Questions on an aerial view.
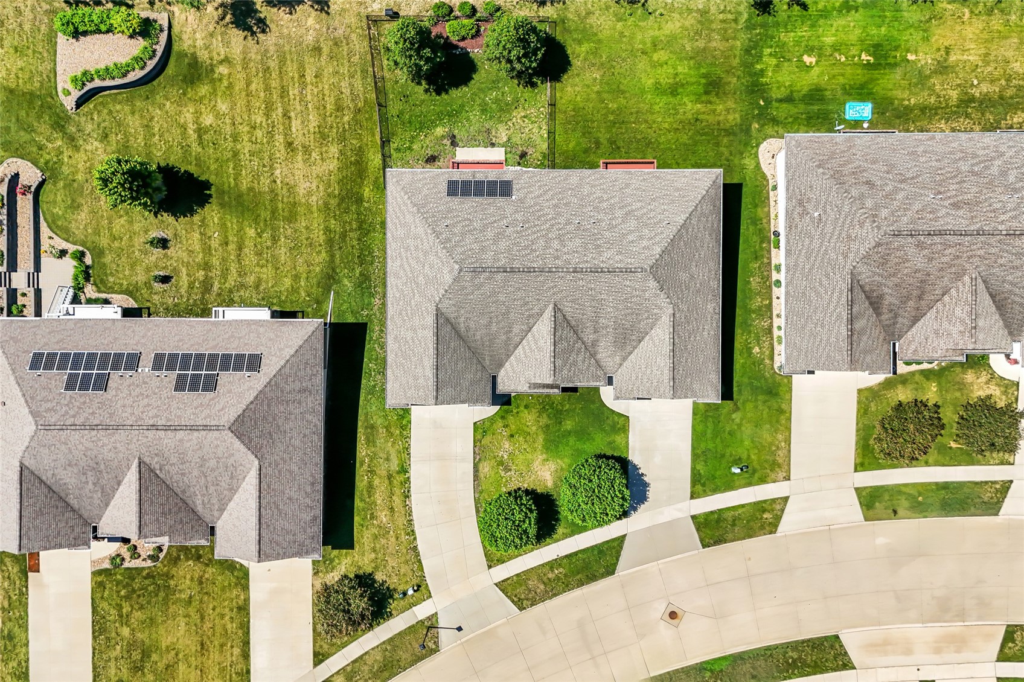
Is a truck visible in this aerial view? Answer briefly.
No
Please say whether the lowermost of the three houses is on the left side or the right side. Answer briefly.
left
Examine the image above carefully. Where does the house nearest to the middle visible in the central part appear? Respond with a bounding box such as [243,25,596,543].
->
[384,168,723,408]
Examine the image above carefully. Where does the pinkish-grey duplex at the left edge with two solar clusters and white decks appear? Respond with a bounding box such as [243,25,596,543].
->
[0,318,329,565]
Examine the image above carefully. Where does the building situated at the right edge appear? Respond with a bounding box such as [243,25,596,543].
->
[772,132,1024,376]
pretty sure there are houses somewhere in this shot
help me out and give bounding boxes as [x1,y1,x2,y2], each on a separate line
[384,168,723,408]
[0,318,329,565]
[772,132,1024,376]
